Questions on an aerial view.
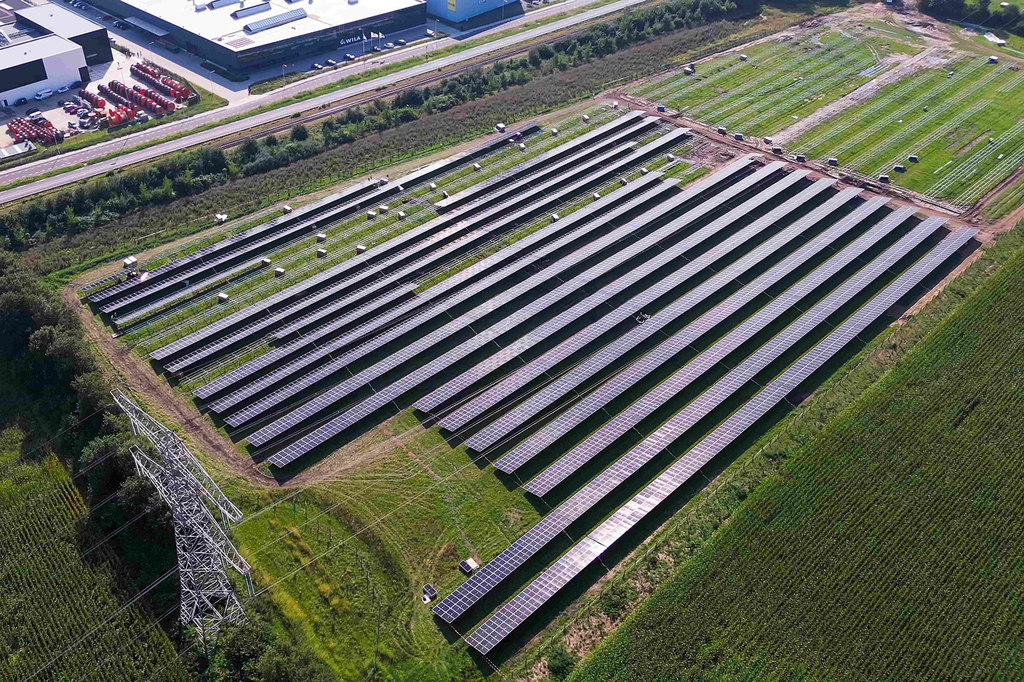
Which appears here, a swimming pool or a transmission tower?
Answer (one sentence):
I can see a transmission tower in this picture.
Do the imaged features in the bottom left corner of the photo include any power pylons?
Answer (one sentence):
Yes, a power pylon can be seen in the bottom left corner of the photo.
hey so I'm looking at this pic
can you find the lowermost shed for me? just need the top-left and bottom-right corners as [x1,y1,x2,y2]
[0,141,40,169]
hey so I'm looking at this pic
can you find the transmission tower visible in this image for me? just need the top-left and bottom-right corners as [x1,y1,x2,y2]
[110,394,267,646]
